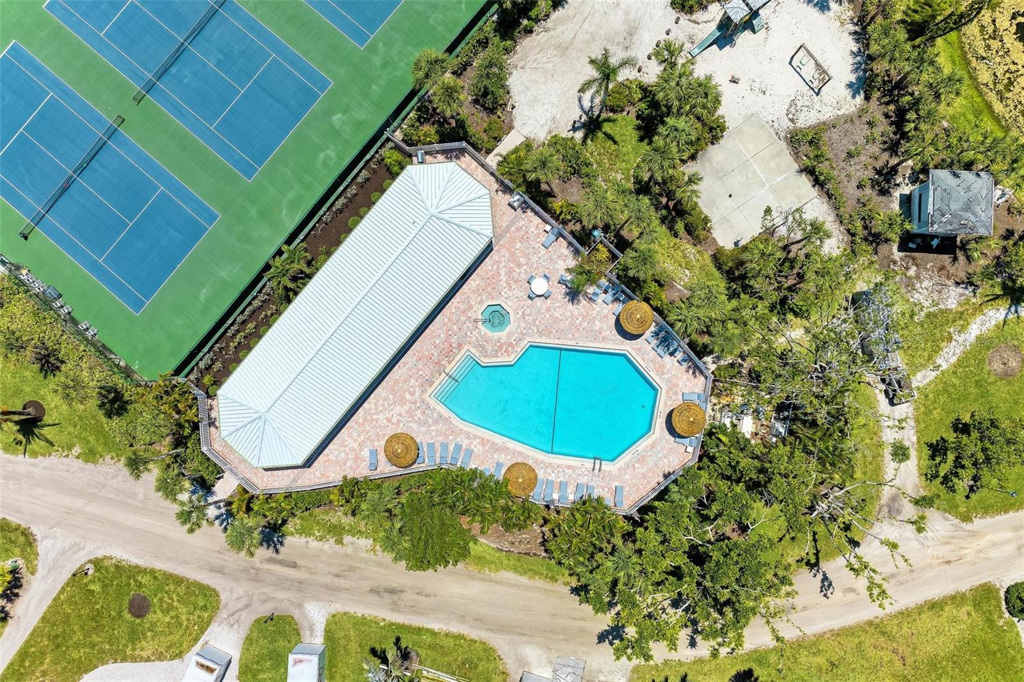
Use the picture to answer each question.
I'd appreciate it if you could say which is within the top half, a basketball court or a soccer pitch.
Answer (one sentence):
It is a basketball court that can be seen within the top half.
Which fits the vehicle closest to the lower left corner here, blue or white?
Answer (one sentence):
The color of the vehicle closest to the lower left corner is white.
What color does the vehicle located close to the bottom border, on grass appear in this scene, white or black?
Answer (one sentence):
From above, the vehicle located close to the bottom border, on grass appears white.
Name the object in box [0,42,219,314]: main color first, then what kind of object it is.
blue tennis court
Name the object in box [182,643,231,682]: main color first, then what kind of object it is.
white vehicle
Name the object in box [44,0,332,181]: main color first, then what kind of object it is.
blue tennis court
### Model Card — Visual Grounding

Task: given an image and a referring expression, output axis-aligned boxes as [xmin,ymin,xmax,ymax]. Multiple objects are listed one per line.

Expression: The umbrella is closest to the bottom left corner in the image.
[383,432,419,468]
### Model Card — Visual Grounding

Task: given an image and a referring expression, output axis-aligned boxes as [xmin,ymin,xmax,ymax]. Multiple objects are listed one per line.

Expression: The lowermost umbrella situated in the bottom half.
[502,461,538,497]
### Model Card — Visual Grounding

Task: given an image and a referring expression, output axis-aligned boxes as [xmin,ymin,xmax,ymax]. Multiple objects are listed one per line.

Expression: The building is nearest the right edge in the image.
[903,168,994,258]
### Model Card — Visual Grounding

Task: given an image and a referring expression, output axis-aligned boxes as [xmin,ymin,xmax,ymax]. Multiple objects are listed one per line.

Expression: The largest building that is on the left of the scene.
[216,161,494,469]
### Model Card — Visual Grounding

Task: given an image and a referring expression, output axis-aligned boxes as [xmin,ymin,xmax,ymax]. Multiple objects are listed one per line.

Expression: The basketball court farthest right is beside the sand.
[685,113,818,248]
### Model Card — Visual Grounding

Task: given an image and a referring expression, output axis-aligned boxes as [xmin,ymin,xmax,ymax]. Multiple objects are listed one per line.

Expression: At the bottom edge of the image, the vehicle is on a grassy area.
[288,643,326,682]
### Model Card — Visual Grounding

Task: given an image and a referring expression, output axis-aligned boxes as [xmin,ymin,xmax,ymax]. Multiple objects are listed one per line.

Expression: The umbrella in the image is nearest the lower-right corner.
[671,401,707,437]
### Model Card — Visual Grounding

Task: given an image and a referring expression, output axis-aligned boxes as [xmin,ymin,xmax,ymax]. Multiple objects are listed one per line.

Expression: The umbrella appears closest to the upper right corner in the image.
[619,300,655,335]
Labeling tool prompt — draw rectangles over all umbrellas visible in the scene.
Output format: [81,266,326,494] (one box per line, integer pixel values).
[383,432,419,468]
[502,461,538,497]
[619,300,655,335]
[671,401,707,437]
